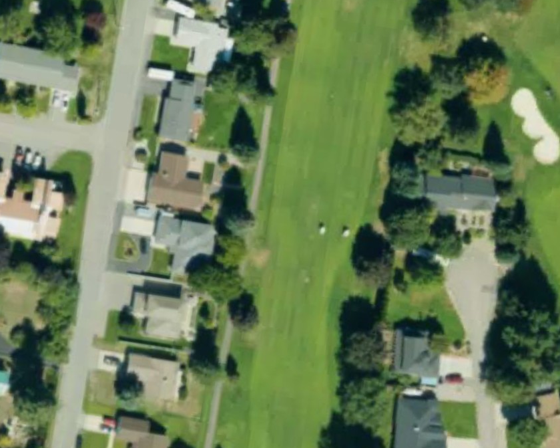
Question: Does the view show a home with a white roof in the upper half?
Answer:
Yes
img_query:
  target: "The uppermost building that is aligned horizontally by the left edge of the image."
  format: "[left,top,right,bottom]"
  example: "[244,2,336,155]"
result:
[0,44,79,88]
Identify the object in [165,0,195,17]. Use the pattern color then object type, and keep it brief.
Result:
white camper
